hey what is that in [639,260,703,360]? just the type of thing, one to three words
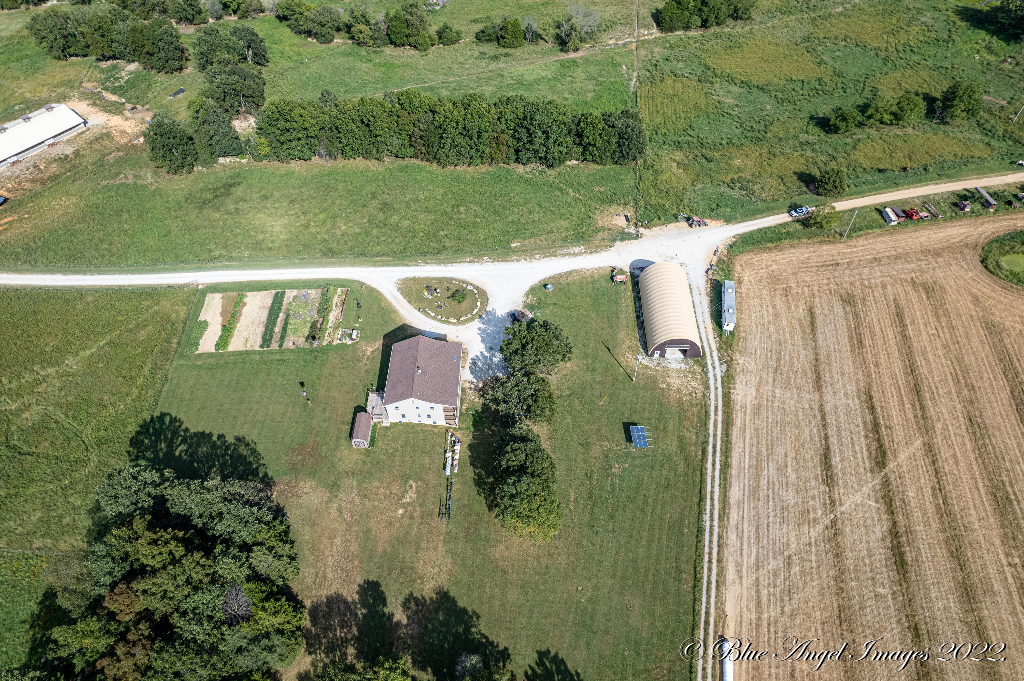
building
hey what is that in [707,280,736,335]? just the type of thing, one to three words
trailer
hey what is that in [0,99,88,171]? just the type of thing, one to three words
barn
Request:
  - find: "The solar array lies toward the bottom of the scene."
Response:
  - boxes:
[630,426,648,450]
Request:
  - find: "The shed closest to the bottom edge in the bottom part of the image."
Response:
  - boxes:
[350,412,372,448]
